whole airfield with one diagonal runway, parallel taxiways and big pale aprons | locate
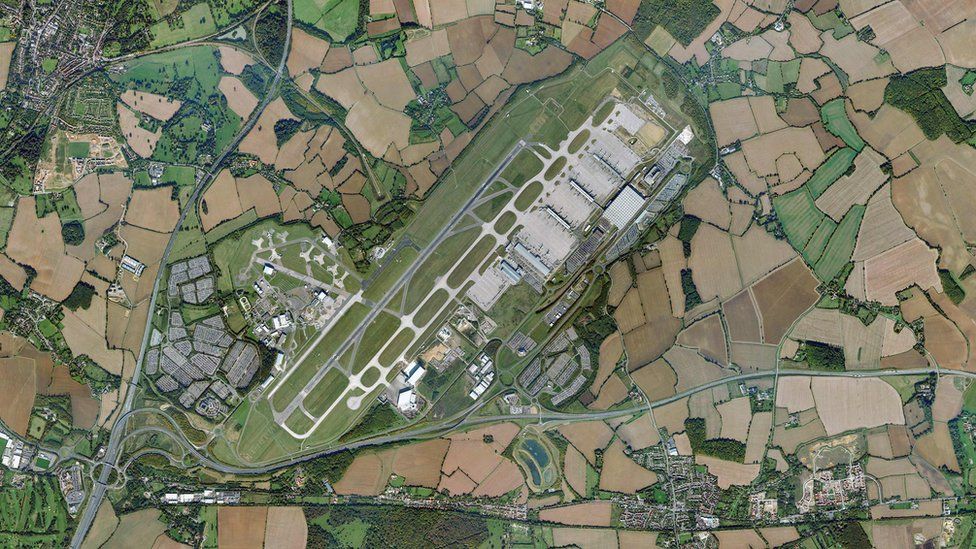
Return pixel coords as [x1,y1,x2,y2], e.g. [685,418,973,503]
[221,42,698,462]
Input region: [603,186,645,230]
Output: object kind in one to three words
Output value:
building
